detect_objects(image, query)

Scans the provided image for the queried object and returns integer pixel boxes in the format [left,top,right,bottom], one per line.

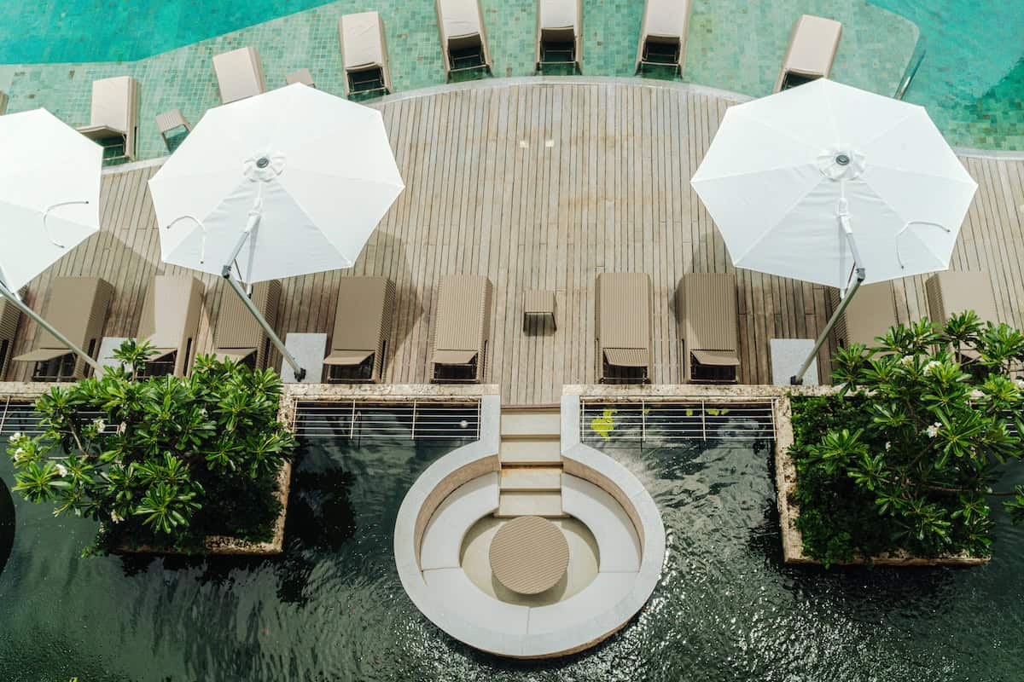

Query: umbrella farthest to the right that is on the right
[693,76,975,384]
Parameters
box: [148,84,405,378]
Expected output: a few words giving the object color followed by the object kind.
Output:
white umbrella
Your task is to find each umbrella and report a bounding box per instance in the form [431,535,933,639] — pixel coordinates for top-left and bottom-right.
[148,84,405,378]
[693,76,975,384]
[0,103,109,375]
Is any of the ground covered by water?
Yes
